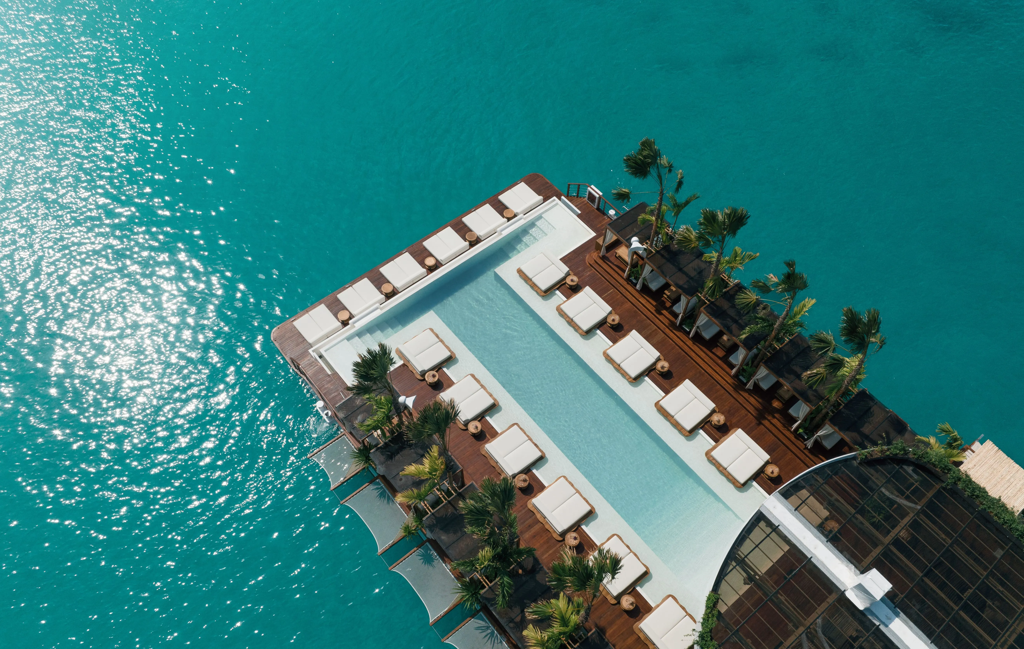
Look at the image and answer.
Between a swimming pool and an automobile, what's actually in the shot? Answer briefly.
swimming pool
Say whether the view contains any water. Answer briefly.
Yes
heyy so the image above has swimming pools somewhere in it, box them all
[309,195,773,623]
